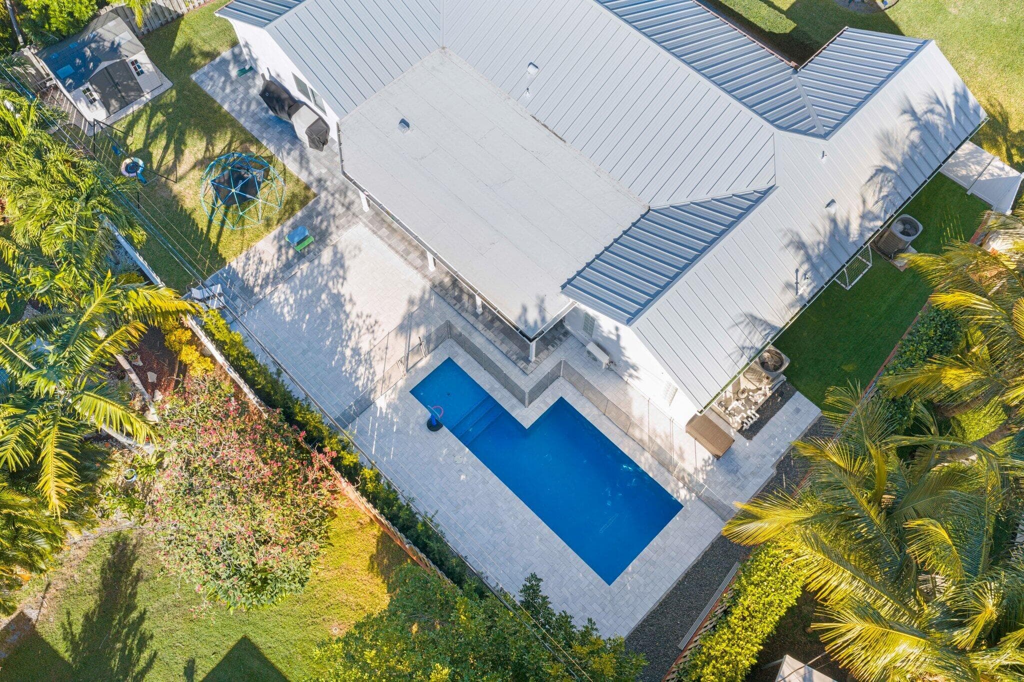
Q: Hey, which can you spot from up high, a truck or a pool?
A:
pool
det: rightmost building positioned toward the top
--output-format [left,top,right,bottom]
[215,0,990,431]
